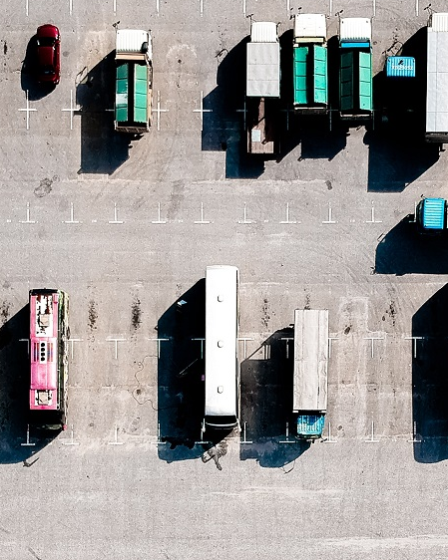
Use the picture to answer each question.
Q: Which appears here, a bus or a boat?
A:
bus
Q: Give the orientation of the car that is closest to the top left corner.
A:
up and down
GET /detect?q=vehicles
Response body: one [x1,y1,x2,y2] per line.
[111,21,153,137]
[413,194,448,237]
[289,6,330,120]
[244,13,282,157]
[380,48,419,126]
[333,11,374,123]
[34,25,61,84]
[204,265,241,430]
[294,310,330,445]
[28,290,68,429]
[422,5,448,140]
